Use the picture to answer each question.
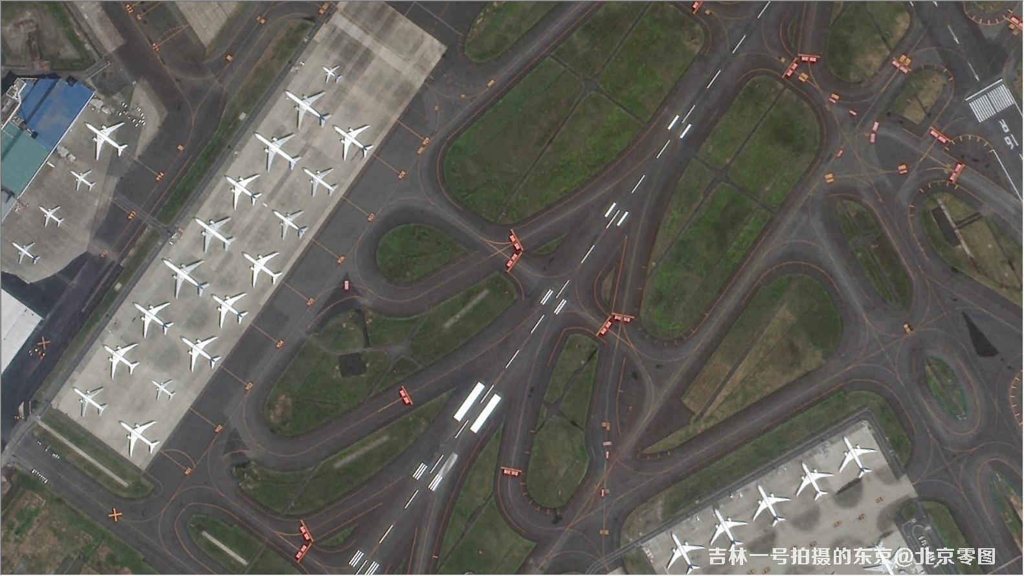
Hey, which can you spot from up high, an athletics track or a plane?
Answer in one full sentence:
Of the two, only a plane appears.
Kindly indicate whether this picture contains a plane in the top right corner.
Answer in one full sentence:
No, no plane is visible in the top right corner.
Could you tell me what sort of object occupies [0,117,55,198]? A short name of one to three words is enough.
hangar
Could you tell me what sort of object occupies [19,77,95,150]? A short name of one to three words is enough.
hangar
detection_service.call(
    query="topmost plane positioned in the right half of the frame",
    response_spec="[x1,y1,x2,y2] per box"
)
[840,437,877,479]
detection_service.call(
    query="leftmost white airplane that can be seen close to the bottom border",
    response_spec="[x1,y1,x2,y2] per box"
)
[668,534,704,576]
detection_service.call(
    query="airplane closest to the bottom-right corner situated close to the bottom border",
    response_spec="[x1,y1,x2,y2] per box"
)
[865,537,905,576]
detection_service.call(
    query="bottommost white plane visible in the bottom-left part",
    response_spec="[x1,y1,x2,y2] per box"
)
[120,422,160,456]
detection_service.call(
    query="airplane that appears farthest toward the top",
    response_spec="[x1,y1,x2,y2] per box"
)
[322,66,342,82]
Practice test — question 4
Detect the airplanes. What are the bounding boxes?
[70,170,96,191]
[333,124,373,160]
[797,463,834,502]
[73,387,107,415]
[86,123,127,158]
[322,66,342,82]
[754,486,790,528]
[151,379,176,401]
[865,537,905,576]
[285,90,330,128]
[103,344,140,377]
[273,211,307,238]
[13,242,39,263]
[162,259,208,296]
[195,217,235,252]
[255,133,301,170]
[303,167,337,195]
[120,422,160,456]
[212,293,248,326]
[712,510,747,551]
[668,534,704,576]
[39,205,64,226]
[225,174,261,208]
[242,252,282,287]
[181,337,221,371]
[840,437,877,479]
[134,303,173,336]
